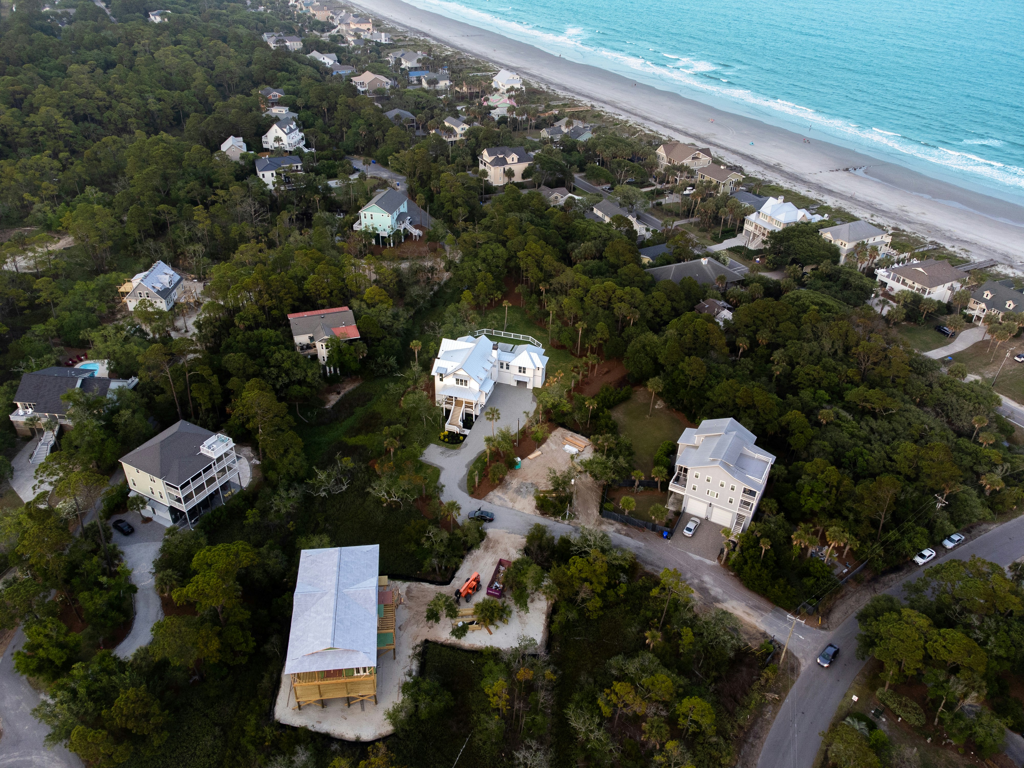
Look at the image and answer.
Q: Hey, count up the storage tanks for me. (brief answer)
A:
0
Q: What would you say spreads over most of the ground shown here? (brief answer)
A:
trees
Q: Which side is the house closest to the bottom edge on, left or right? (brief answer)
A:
left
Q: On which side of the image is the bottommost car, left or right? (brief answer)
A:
right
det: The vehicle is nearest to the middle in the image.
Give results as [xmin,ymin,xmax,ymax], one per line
[468,507,495,521]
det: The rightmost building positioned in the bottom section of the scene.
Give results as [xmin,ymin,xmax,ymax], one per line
[667,419,776,533]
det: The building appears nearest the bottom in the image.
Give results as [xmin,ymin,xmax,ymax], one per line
[285,544,415,714]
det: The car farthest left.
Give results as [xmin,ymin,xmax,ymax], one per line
[110,517,136,533]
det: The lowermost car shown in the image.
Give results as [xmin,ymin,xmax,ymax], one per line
[818,641,843,668]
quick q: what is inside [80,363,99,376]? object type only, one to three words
swimming pool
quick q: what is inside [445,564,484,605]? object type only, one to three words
work vehicle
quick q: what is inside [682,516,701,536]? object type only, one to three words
car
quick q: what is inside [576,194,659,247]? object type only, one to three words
house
